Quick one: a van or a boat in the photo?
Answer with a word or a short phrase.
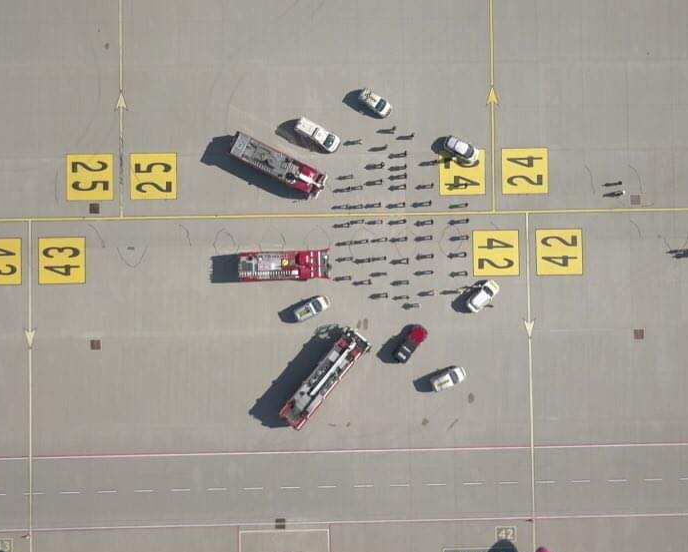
van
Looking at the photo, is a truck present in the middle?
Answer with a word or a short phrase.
Yes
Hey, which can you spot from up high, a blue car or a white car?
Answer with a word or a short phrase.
white car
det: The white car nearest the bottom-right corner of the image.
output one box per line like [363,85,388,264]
[430,366,467,393]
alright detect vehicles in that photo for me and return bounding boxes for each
[292,295,331,323]
[441,134,480,163]
[227,129,328,198]
[278,326,370,433]
[430,366,467,393]
[237,247,337,281]
[294,115,341,154]
[357,85,393,118]
[466,279,500,316]
[394,326,427,365]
